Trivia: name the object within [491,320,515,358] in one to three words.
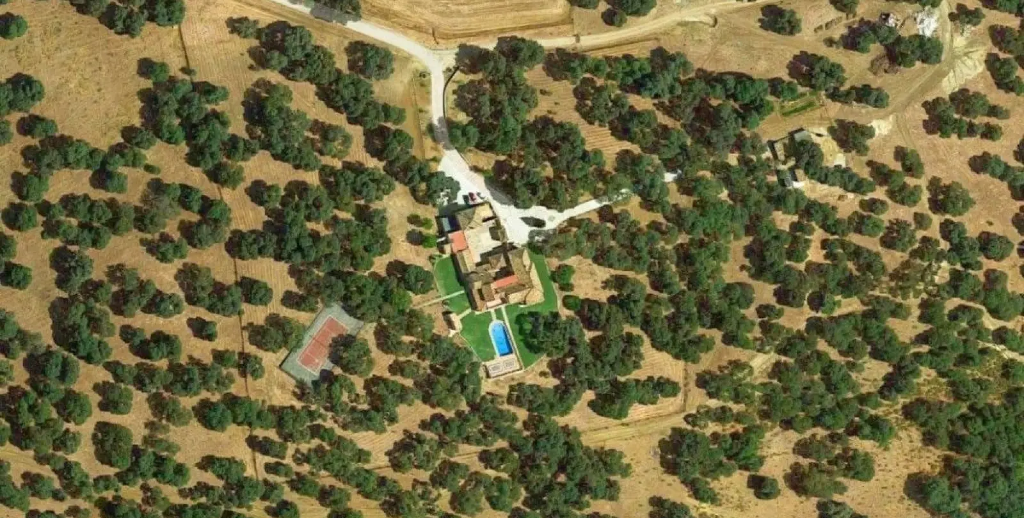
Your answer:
swimming pool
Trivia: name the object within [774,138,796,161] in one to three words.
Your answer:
barn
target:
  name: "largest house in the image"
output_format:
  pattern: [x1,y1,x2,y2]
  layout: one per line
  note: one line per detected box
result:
[442,202,534,311]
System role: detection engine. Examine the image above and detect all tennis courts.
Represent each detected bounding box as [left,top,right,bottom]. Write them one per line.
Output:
[280,301,363,383]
